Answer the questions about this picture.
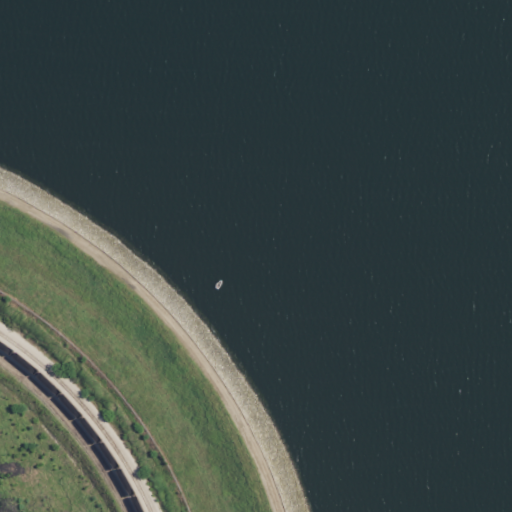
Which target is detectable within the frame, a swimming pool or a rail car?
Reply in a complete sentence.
Of the two, only a rail car appears.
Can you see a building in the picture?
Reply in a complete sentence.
No, there isn't any building down there.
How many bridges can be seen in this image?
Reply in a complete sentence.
The photo contains no bridges.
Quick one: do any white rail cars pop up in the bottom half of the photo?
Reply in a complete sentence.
No, I can find no white rail car in the bottom half of the photo.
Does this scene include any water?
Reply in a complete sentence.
Yes, some water is visible.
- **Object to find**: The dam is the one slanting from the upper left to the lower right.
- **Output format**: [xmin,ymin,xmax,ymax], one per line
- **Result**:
[0,164,314,512]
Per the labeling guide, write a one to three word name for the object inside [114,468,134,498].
rail car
